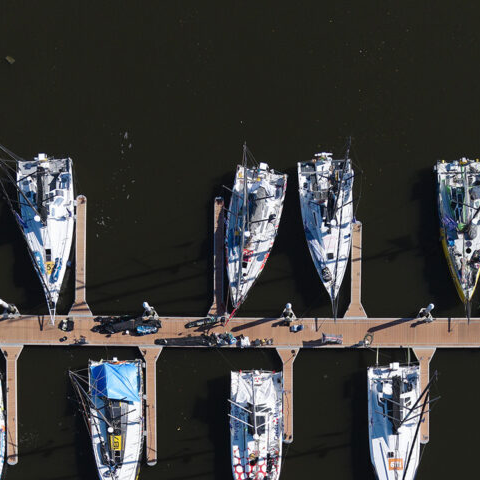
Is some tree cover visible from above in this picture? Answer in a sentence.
No, no tree cover is visible.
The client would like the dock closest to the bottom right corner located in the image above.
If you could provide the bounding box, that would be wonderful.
[411,348,435,443]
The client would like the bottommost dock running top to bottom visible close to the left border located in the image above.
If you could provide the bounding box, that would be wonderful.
[0,346,23,465]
